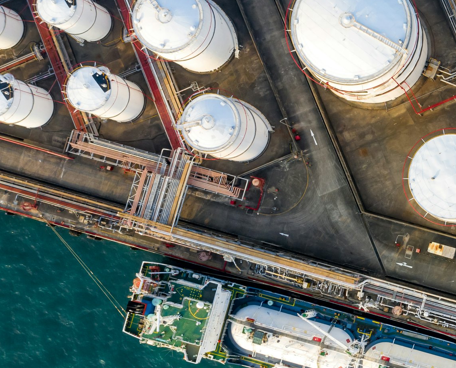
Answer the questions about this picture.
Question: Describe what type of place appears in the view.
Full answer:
This image shows an industrial area.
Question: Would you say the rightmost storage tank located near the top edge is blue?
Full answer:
No, from above the rightmost storage tank located near the top edge looks white.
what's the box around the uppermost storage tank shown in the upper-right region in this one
[285,0,430,114]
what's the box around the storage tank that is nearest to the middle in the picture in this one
[174,89,275,164]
